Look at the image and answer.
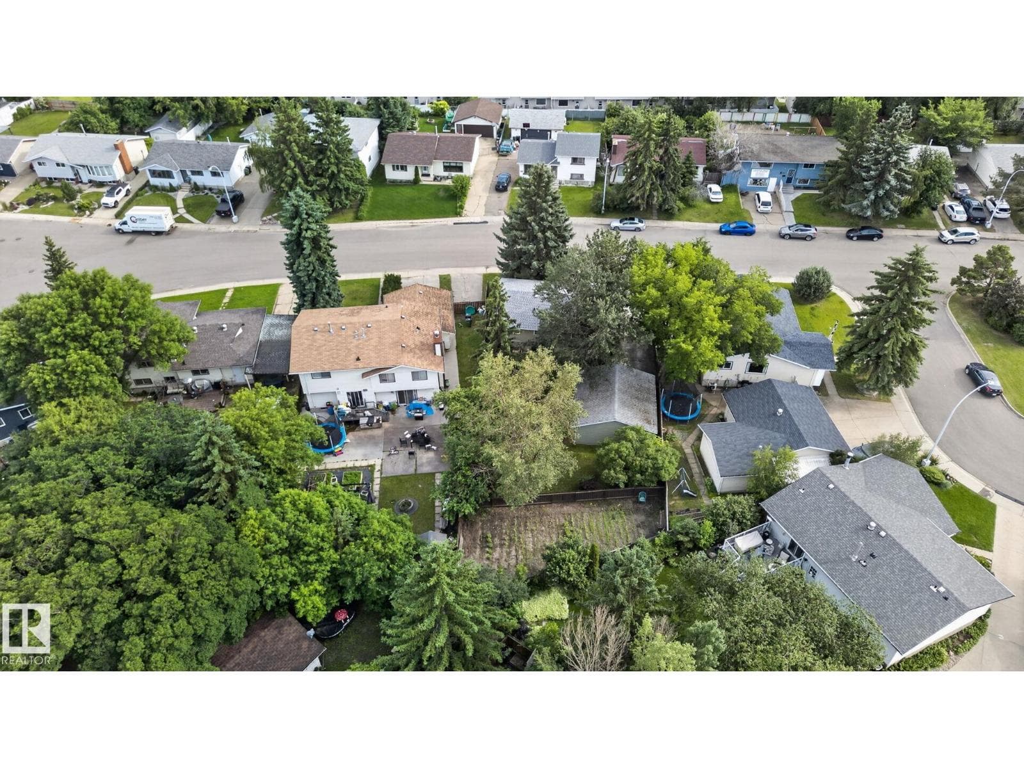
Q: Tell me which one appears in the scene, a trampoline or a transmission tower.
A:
trampoline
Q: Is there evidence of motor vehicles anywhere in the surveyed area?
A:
Yes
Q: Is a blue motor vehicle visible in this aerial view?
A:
Yes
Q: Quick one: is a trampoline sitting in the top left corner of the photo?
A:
No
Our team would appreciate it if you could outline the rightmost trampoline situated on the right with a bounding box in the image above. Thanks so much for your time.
[660,379,704,427]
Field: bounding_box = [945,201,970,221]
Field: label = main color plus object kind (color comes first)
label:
white car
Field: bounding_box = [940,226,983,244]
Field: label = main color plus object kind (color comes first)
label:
white car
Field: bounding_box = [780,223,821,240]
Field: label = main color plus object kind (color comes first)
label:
gray car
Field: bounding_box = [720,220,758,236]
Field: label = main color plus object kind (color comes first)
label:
blue car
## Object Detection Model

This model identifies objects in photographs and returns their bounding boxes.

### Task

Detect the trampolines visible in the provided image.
[318,606,365,656]
[660,379,704,427]
[303,412,350,461]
